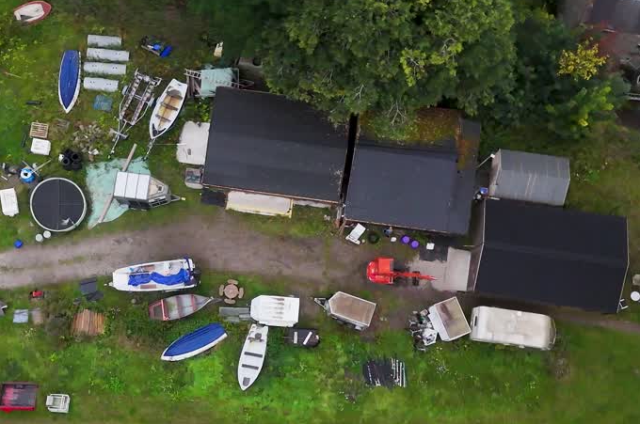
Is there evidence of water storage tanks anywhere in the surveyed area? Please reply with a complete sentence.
Yes, a water storage tank is visible in the scene.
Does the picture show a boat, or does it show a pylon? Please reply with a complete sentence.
The one in the frame is a boat.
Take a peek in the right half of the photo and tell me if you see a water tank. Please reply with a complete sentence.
No, I see no water tank in the right half of the photo.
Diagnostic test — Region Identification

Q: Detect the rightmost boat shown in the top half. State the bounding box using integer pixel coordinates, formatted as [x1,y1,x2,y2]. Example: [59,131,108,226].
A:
[154,80,187,136]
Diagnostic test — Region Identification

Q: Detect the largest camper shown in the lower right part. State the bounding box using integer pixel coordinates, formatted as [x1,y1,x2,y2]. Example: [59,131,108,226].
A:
[468,308,559,350]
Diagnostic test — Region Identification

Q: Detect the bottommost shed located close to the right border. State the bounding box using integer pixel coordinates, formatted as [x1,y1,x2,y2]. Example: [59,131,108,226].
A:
[466,198,629,314]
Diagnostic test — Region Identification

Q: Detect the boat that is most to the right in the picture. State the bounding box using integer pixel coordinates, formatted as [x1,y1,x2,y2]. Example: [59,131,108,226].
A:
[238,323,269,391]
